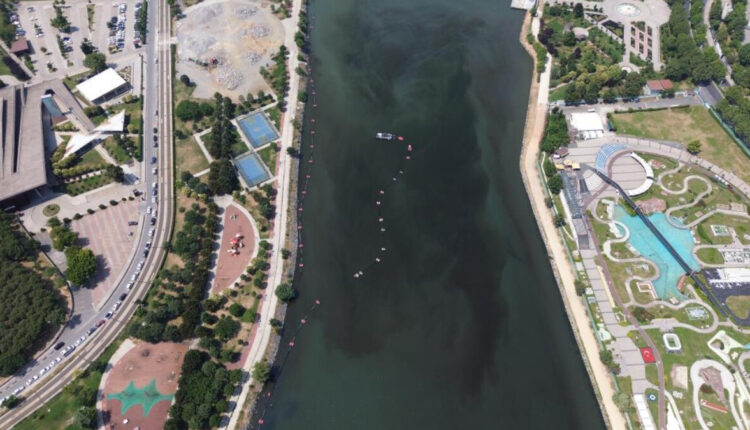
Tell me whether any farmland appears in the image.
No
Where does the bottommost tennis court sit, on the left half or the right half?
left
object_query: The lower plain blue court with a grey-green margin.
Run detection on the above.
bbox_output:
[232,149,272,186]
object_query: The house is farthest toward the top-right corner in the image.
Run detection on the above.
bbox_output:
[645,79,673,96]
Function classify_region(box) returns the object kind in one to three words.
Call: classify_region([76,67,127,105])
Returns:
building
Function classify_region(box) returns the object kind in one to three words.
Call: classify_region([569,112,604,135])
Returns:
building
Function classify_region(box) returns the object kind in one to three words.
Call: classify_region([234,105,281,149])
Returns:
basketball court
